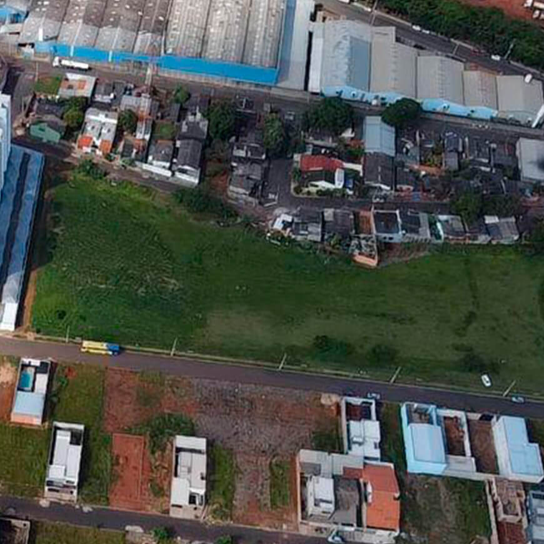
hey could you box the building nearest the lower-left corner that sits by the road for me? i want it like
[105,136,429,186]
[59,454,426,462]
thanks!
[45,421,84,504]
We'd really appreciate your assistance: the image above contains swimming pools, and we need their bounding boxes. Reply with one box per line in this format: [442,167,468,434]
[21,369,34,387]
